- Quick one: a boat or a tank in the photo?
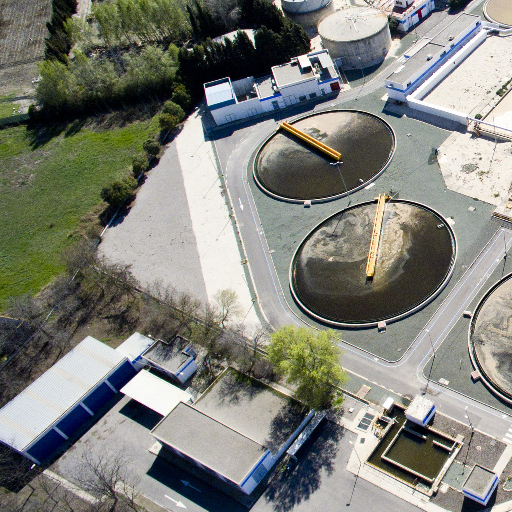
tank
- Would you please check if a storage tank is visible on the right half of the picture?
Yes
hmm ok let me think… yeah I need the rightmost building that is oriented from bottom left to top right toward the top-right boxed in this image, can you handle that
[385,12,478,102]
